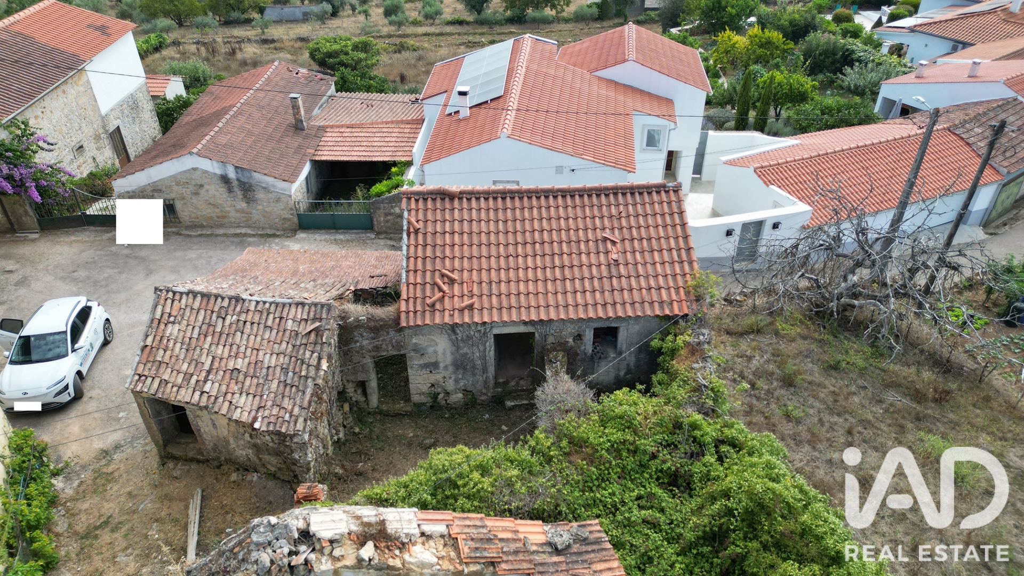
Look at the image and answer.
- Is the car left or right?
left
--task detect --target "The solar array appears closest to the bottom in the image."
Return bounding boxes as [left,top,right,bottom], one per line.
[445,34,515,111]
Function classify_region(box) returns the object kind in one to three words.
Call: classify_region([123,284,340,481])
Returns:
shed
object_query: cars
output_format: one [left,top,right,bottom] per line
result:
[0,297,111,414]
